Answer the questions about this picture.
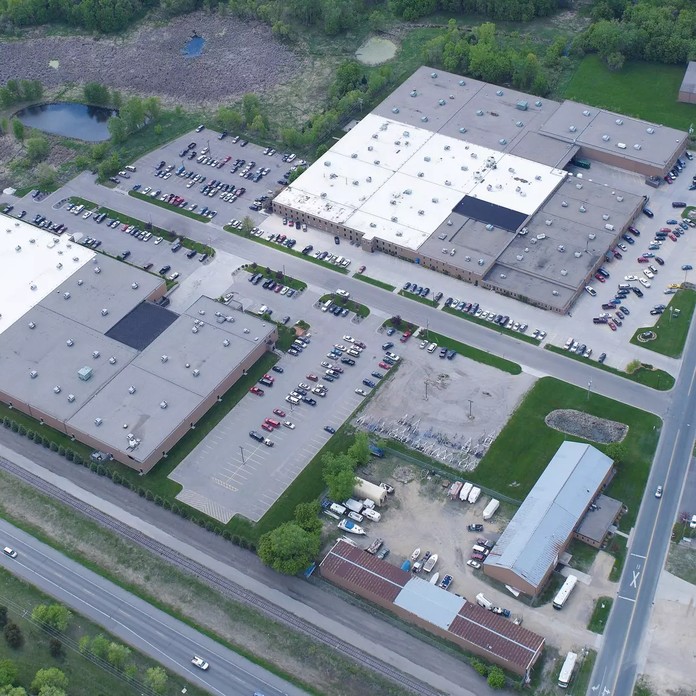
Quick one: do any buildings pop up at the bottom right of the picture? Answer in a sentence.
Yes, at the bottom right of the picture there is a building.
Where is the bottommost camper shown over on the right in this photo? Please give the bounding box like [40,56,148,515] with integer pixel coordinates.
[559,650,577,686]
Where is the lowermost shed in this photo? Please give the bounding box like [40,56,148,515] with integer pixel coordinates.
[316,539,552,681]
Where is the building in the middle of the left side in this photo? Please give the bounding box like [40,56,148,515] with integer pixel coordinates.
[0,213,278,476]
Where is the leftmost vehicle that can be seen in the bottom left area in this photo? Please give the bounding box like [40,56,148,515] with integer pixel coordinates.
[2,545,18,558]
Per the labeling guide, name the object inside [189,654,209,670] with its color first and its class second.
white vehicle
